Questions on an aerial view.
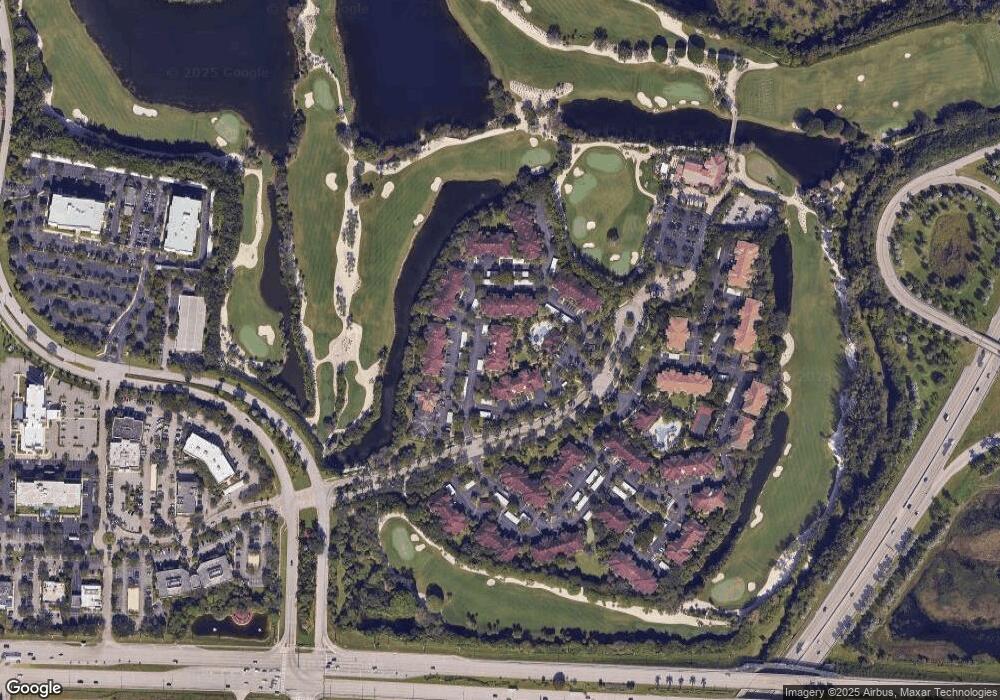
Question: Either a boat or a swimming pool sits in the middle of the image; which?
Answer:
swimming pool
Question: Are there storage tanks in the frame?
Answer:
No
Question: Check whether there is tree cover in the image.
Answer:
Yes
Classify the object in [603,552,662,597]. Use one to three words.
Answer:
building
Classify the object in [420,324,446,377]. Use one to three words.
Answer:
building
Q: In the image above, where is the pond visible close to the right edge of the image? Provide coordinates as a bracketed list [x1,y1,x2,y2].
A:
[886,566,1000,657]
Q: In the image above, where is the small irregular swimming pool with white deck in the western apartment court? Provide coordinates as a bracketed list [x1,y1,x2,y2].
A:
[530,320,553,348]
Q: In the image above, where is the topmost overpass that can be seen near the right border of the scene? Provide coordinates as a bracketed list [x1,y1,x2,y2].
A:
[936,320,1000,356]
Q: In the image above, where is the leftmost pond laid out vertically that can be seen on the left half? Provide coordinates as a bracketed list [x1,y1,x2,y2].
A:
[260,182,306,410]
